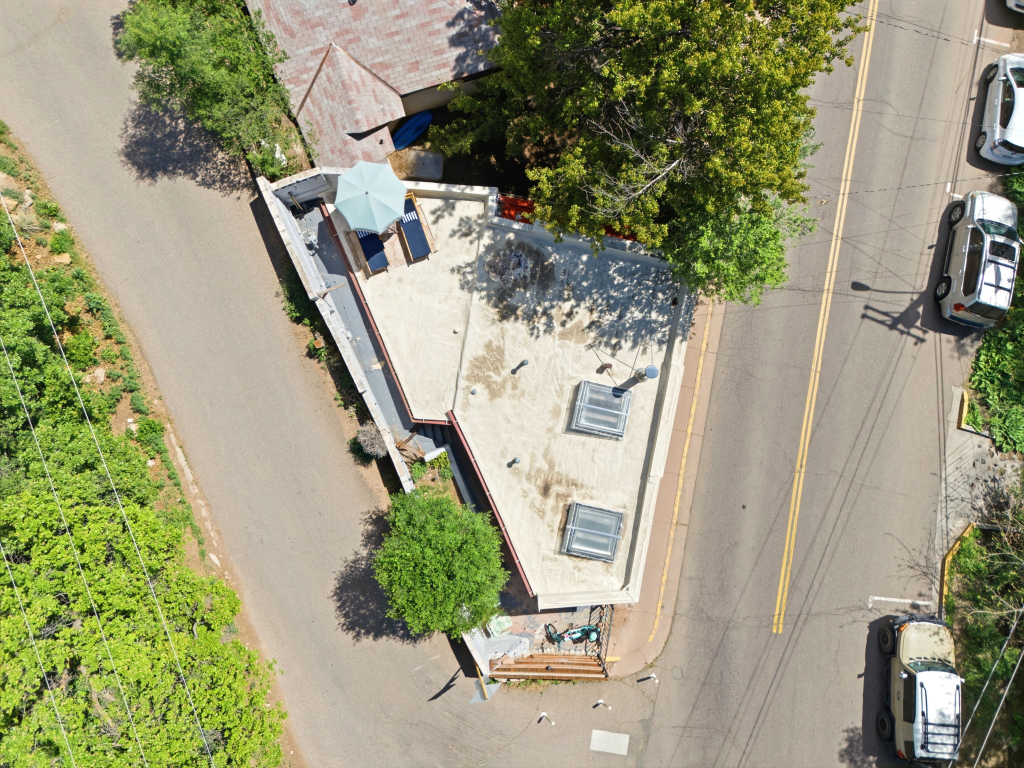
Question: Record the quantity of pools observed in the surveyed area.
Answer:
0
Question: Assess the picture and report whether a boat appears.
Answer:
Yes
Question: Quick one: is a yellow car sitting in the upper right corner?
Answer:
No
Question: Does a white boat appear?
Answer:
No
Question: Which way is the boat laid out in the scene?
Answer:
diagonally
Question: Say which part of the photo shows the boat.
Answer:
top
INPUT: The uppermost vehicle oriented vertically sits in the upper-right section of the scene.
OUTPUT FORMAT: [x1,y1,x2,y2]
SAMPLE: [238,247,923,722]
[975,51,1024,170]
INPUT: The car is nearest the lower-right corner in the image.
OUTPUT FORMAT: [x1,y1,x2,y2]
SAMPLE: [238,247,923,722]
[877,608,968,768]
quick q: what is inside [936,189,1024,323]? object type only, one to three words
car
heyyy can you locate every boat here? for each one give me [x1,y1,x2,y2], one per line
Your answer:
[395,110,432,150]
